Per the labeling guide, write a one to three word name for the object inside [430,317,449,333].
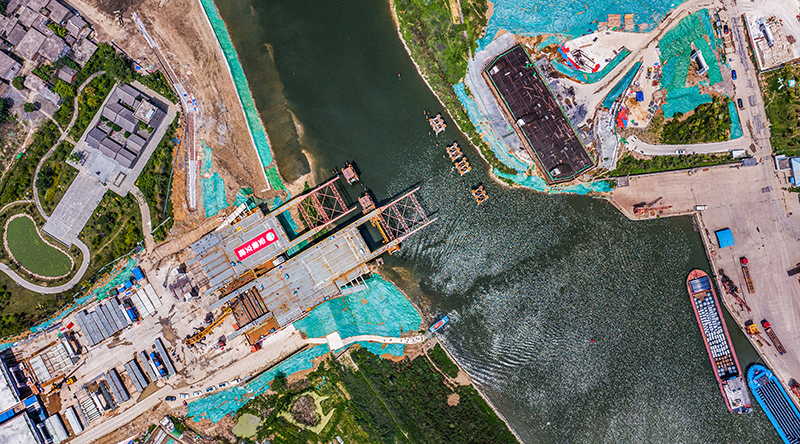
boat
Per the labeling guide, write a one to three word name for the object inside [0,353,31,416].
building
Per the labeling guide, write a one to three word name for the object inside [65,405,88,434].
shed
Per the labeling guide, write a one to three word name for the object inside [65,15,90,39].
house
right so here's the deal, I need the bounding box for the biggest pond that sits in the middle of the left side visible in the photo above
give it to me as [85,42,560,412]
[5,213,73,278]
